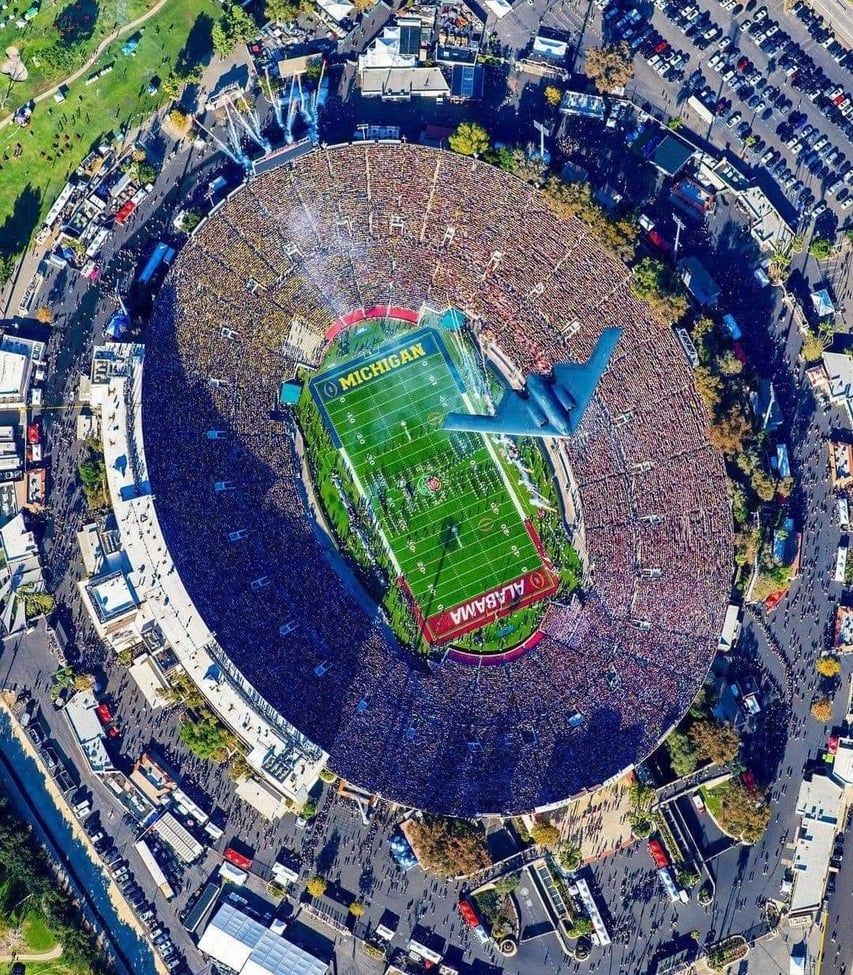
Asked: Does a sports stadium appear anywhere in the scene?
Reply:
Yes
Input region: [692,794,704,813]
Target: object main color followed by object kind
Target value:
white vehicle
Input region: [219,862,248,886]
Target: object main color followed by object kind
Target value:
white tent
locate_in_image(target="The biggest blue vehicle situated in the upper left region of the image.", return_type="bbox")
[139,243,169,286]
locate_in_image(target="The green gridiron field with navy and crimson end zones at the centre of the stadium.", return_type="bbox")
[308,327,560,646]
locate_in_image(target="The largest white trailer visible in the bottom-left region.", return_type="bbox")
[135,841,175,900]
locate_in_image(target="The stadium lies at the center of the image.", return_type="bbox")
[91,139,734,822]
